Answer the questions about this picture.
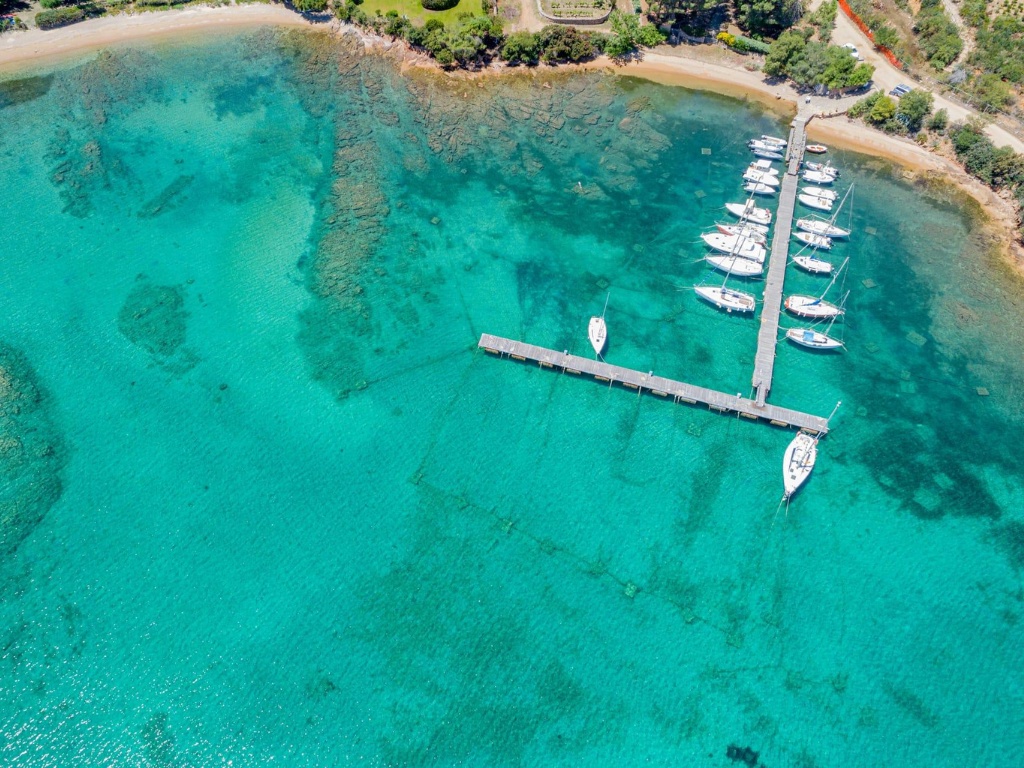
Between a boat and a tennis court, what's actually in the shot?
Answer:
boat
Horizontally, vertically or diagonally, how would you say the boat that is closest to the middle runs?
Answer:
vertically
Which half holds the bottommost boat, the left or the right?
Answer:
right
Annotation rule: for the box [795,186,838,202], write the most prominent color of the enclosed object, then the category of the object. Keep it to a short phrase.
white boat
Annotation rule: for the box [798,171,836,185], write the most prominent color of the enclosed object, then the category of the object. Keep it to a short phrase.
white boat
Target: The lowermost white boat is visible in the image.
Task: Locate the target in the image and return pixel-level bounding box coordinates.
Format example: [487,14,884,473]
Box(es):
[775,401,841,519]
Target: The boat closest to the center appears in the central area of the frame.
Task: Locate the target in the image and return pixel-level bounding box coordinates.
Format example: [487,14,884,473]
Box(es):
[587,291,610,364]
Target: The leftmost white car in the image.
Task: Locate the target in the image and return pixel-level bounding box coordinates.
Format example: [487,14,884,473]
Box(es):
[841,42,864,59]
